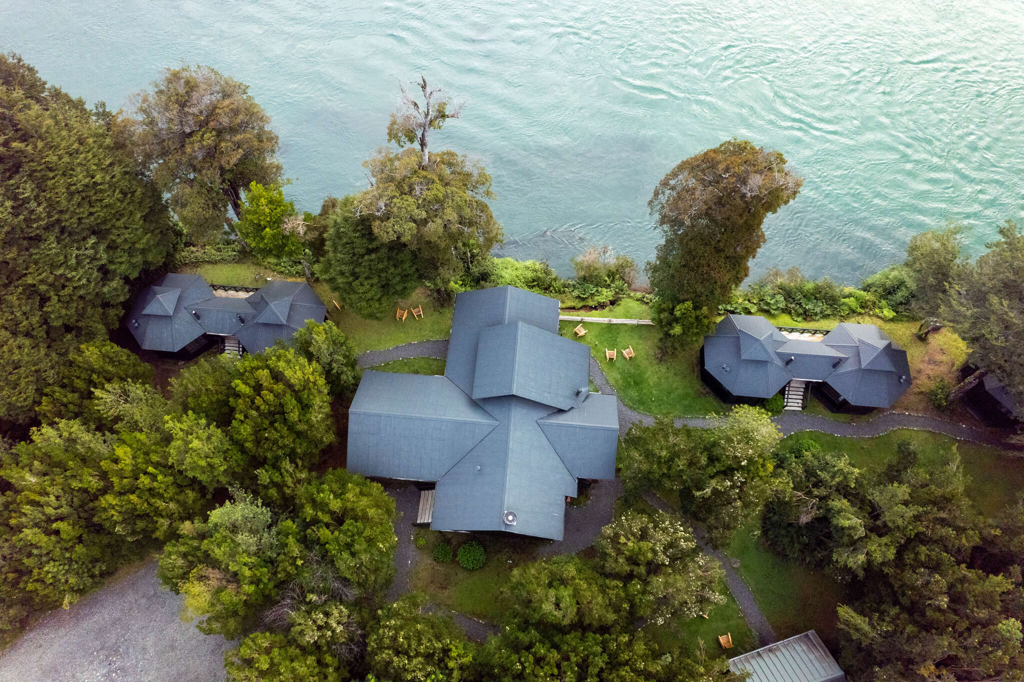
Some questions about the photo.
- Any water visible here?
Yes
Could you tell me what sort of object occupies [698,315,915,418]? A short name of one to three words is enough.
building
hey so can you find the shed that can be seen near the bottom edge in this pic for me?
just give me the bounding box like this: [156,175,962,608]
[724,628,849,682]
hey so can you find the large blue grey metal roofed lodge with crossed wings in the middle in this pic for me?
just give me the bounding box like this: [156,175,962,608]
[347,286,619,541]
